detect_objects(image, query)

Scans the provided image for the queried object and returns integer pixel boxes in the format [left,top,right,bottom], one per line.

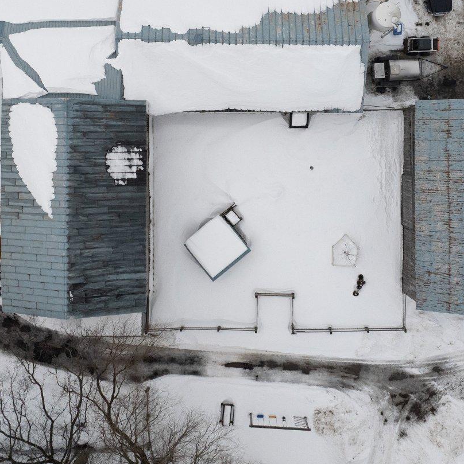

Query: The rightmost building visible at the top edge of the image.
[116,0,370,115]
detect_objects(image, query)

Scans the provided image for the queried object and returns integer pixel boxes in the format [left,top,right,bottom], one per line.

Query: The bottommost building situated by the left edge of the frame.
[1,98,151,320]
